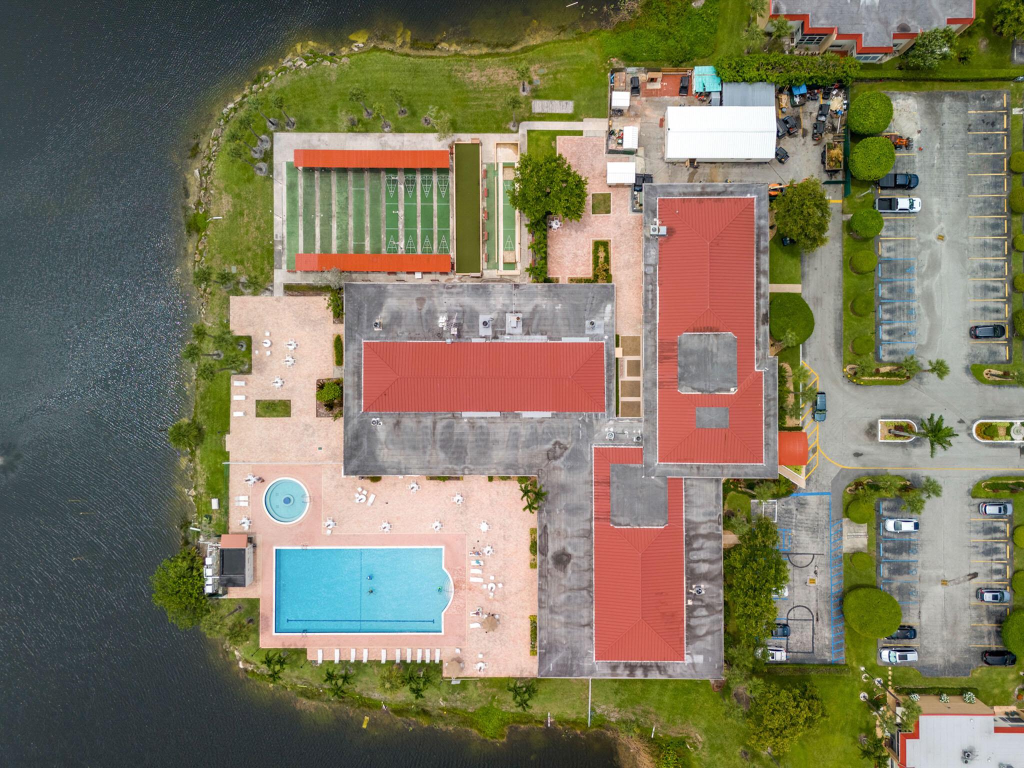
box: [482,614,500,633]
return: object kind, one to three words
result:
umbrella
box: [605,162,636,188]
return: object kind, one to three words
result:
shed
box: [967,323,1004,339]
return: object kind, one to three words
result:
car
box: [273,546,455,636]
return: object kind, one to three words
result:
swimming pool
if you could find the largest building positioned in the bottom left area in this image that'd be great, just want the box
[216,534,254,588]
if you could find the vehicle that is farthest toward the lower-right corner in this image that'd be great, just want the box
[980,648,1015,666]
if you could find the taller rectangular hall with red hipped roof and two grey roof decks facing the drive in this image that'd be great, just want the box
[640,183,778,479]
